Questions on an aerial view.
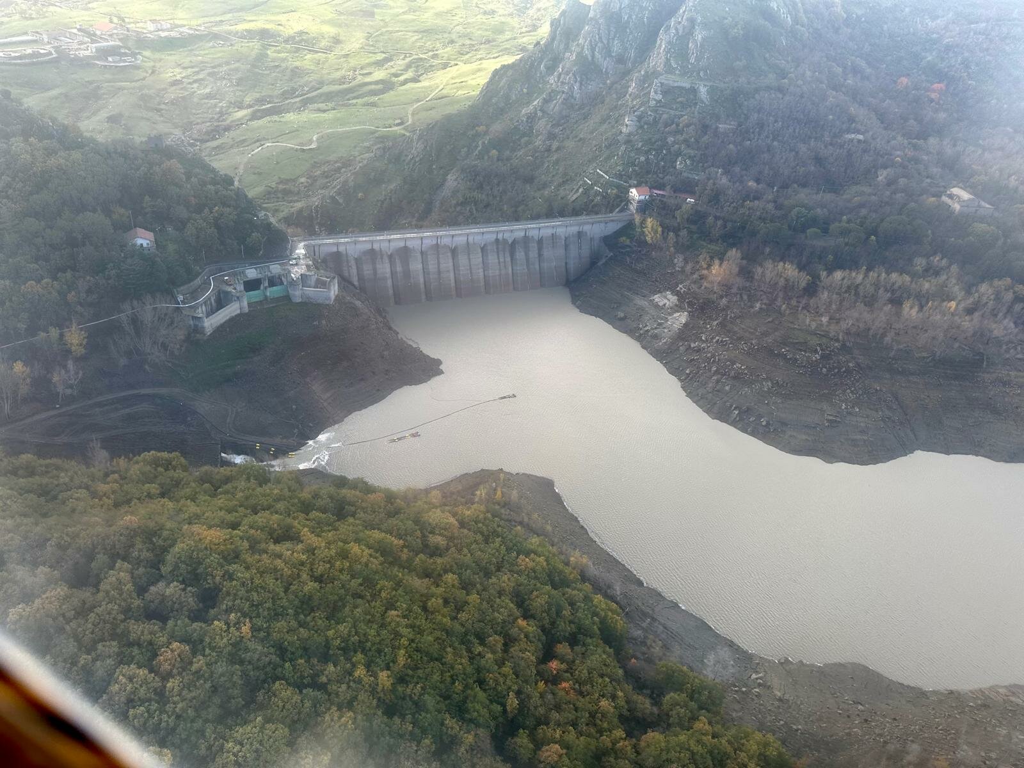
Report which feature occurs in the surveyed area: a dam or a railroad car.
dam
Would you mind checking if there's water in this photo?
Yes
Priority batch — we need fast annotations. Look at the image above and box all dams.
[292,210,628,305]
